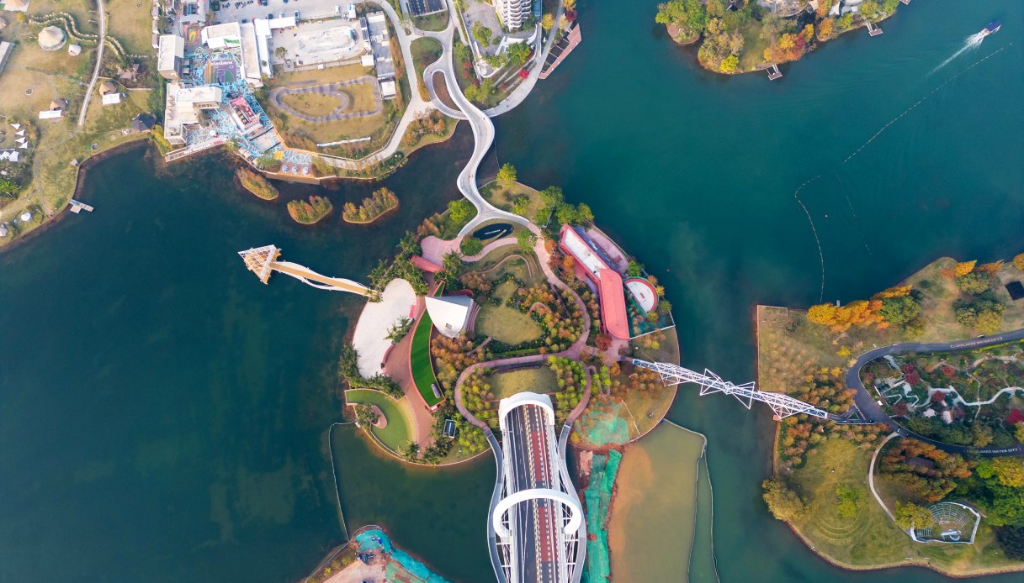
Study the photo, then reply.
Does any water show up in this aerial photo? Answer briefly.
Yes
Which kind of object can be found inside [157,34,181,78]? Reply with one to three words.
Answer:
building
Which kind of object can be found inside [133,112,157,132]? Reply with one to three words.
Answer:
shed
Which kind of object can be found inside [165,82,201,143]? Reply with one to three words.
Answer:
building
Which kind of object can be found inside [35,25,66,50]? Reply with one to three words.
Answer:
tent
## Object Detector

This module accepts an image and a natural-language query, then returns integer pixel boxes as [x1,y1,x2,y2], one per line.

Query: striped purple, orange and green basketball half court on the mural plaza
[204,58,236,83]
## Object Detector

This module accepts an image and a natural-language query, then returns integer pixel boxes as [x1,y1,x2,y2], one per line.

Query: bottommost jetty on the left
[238,245,376,297]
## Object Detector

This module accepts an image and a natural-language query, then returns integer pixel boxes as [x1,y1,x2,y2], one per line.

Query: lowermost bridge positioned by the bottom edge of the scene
[484,392,587,583]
